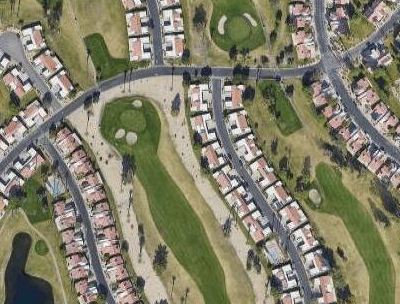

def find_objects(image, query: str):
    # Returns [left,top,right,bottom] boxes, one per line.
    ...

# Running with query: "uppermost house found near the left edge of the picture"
[17,22,47,53]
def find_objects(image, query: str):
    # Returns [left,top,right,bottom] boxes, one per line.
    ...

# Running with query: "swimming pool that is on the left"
[45,174,67,197]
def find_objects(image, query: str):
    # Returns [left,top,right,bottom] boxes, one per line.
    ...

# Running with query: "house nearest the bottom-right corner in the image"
[312,277,340,304]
